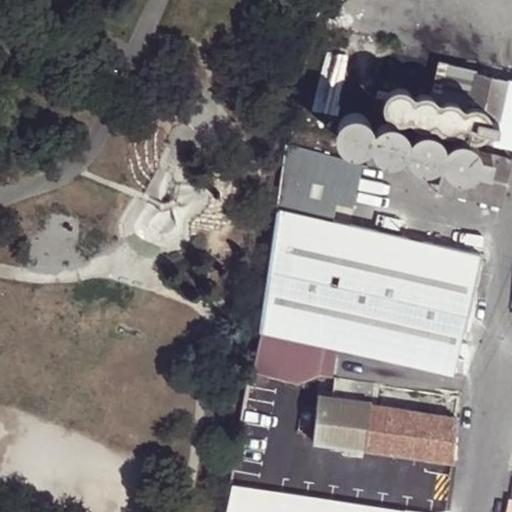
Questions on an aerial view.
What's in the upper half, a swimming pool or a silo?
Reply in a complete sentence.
You can see a silo in the upper half.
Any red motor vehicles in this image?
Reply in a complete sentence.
No, I can't see a single red motor vehicle in this photo.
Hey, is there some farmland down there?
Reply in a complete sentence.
No, there's no farmland in this view.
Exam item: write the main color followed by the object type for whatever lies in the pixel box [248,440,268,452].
white vehicle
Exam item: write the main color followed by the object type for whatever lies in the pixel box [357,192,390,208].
white vehicle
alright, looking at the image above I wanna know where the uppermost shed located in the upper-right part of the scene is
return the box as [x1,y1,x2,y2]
[436,61,478,91]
